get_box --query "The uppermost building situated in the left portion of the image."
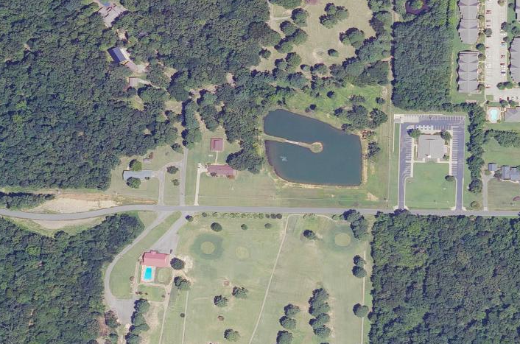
[99,2,127,29]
